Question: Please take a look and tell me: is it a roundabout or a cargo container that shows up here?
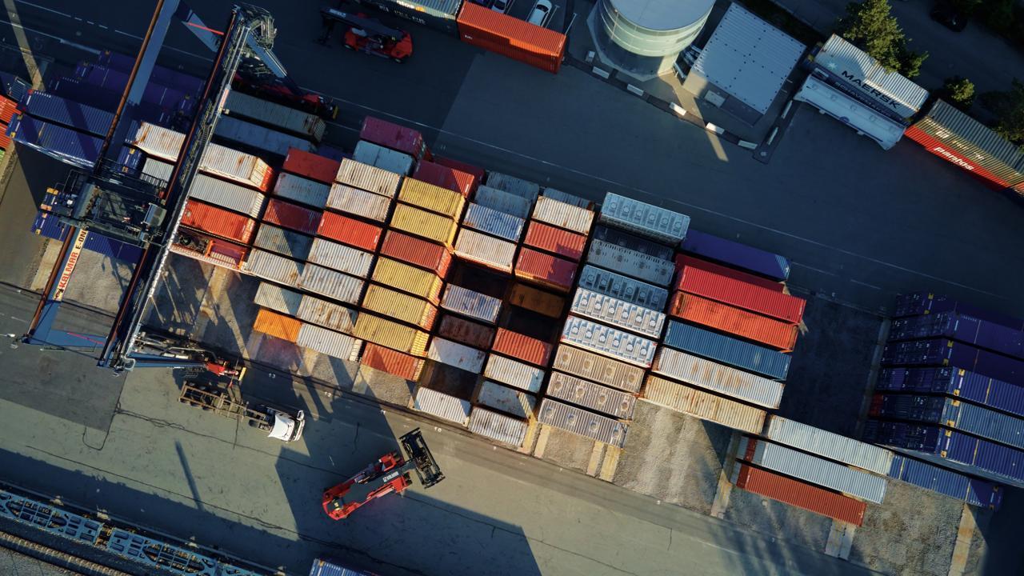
cargo container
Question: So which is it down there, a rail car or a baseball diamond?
rail car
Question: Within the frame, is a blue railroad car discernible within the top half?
No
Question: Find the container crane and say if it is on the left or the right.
left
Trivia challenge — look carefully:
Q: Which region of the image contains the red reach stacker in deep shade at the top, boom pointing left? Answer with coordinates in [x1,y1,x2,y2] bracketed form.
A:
[300,0,419,68]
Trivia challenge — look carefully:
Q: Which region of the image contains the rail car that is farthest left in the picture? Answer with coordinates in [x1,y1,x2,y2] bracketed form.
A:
[0,489,106,547]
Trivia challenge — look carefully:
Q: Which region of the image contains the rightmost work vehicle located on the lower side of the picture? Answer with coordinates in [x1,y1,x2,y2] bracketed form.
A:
[325,428,446,523]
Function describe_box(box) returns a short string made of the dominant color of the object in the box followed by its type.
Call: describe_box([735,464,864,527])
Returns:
red shipping container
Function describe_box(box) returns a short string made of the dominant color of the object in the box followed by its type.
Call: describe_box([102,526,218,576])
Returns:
blue rail car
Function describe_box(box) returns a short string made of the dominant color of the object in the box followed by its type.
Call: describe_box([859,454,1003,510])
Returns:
blue shipping container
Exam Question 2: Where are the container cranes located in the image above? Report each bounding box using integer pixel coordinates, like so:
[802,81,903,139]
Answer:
[4,0,334,389]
